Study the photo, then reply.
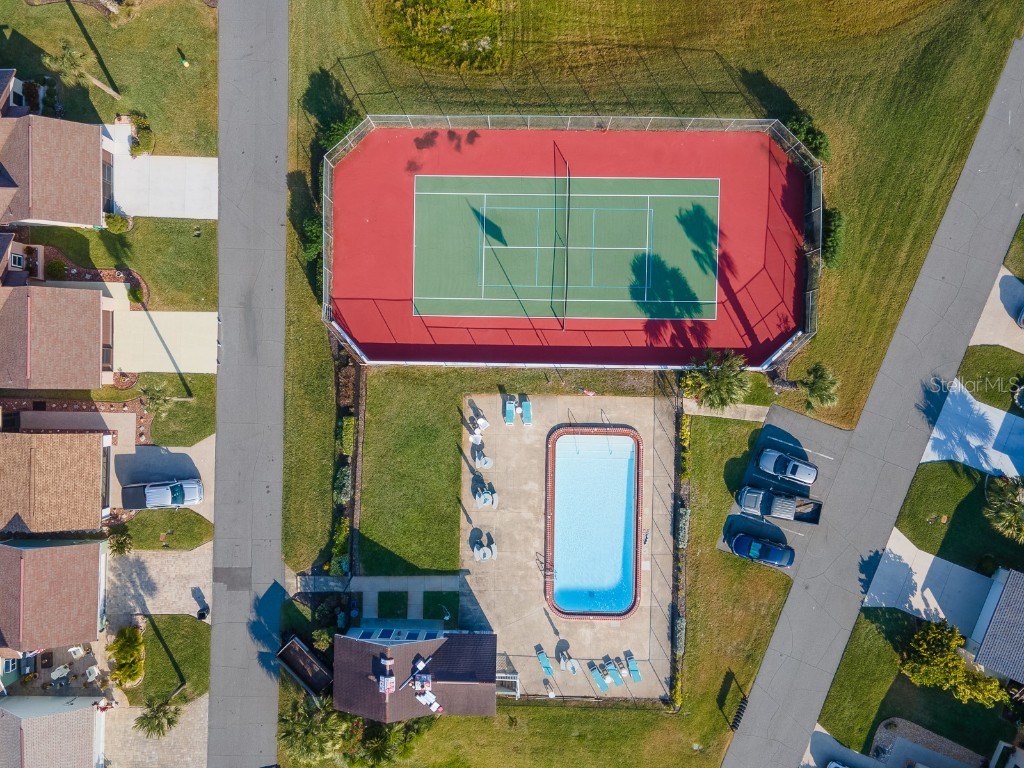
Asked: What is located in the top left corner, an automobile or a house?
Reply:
house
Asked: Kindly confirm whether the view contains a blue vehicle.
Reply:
Yes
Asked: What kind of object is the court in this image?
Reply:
tennis court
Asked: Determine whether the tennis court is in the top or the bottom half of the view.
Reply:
top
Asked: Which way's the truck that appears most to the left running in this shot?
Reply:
from left to right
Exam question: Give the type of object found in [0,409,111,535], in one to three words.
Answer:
house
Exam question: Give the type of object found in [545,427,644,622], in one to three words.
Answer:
swimming pool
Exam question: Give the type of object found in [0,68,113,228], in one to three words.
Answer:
house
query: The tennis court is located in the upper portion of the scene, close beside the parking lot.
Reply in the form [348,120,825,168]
[331,128,806,363]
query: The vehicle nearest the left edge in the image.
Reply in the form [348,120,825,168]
[121,477,204,510]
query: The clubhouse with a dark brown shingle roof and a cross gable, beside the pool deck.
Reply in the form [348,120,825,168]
[334,628,497,722]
